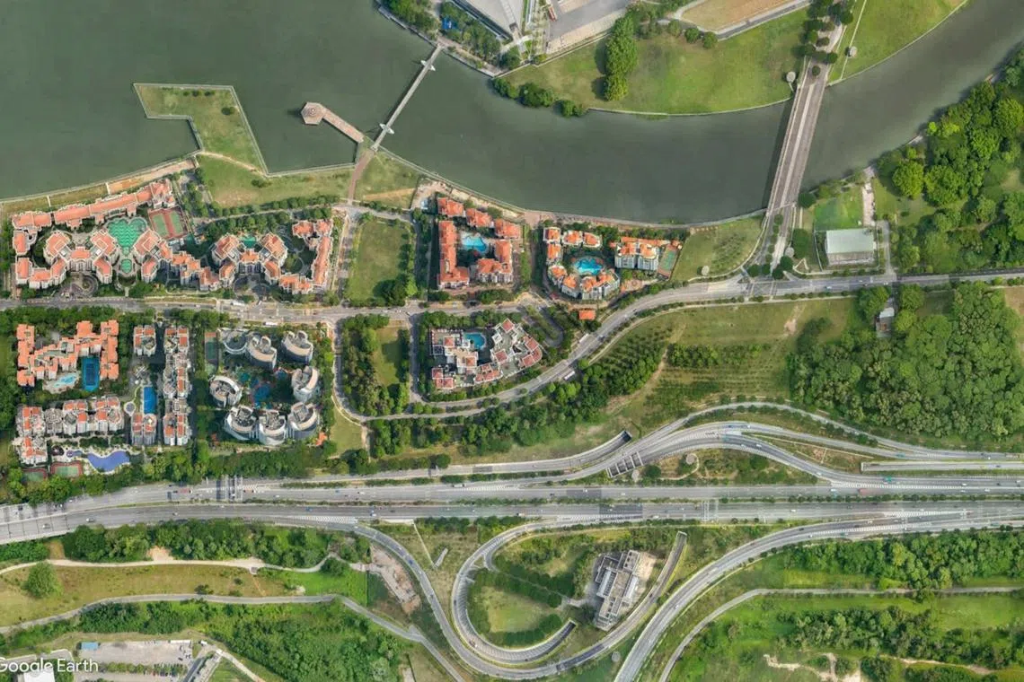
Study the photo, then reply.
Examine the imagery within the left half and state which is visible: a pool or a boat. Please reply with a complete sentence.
Looking within the left half, you will find a pool.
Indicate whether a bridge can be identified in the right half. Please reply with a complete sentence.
Yes, a bridge shows up in the right half.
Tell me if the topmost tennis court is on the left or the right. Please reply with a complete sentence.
It is on the left.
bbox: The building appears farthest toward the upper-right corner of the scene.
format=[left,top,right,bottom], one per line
[826,229,876,270]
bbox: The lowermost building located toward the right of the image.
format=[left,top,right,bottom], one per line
[594,551,639,631]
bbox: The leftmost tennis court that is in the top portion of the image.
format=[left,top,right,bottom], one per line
[148,208,186,239]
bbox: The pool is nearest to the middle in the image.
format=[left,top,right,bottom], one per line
[464,331,486,350]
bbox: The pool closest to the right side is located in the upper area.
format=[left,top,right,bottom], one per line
[574,256,605,277]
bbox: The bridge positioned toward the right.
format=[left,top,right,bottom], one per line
[766,82,829,217]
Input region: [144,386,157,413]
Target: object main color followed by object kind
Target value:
blue swimming pool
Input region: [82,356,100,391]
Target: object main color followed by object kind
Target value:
blue swimming pool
